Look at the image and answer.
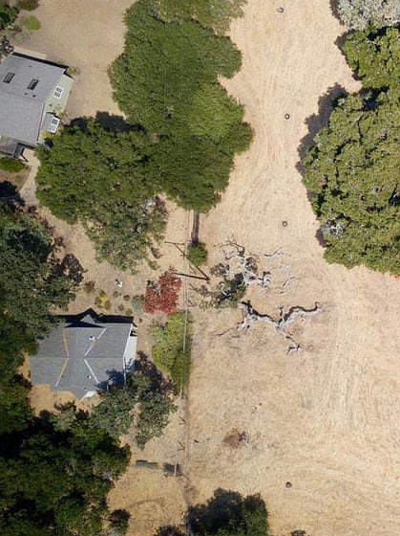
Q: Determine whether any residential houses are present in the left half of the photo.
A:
Yes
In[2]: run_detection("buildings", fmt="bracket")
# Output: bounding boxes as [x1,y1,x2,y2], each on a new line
[0,49,81,159]
[31,317,143,402]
